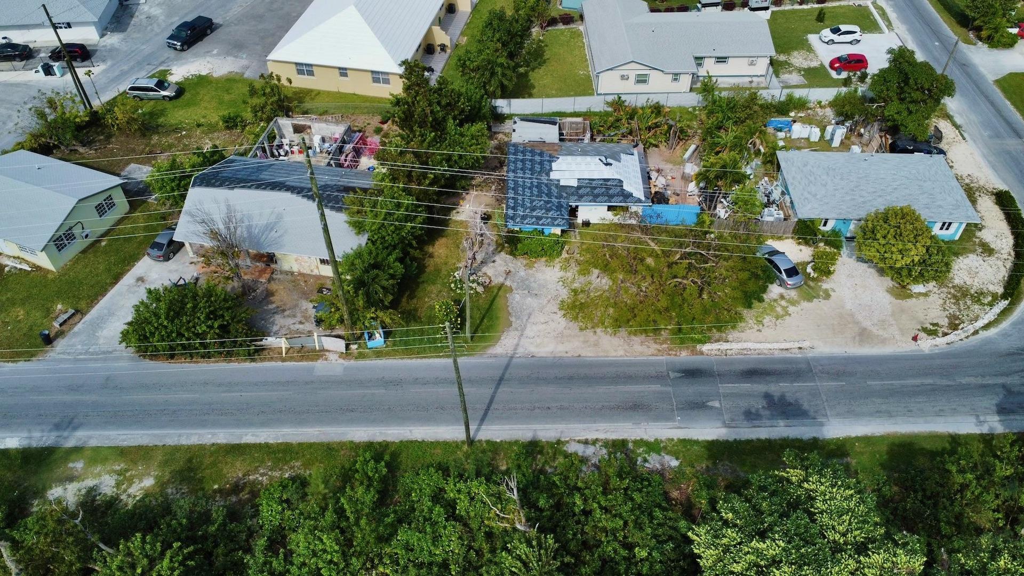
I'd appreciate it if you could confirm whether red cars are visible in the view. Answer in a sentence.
Yes, the frame does contain a red car.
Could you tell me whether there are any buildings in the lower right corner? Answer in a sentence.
No, no building is visible in the lower right corner.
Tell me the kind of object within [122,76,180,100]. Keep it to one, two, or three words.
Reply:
vehicle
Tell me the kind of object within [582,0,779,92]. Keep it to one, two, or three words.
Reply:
house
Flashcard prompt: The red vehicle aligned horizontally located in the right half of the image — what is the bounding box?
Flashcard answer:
[829,51,871,70]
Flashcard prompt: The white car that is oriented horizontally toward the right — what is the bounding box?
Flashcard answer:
[820,24,865,45]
